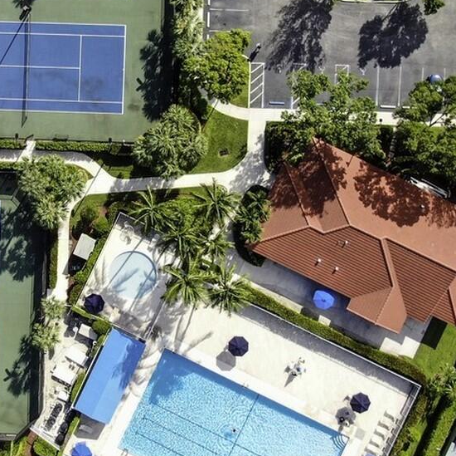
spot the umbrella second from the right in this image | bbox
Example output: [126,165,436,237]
[311,287,335,310]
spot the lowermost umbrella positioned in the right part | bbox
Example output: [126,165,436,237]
[348,391,370,412]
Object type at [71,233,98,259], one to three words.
building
